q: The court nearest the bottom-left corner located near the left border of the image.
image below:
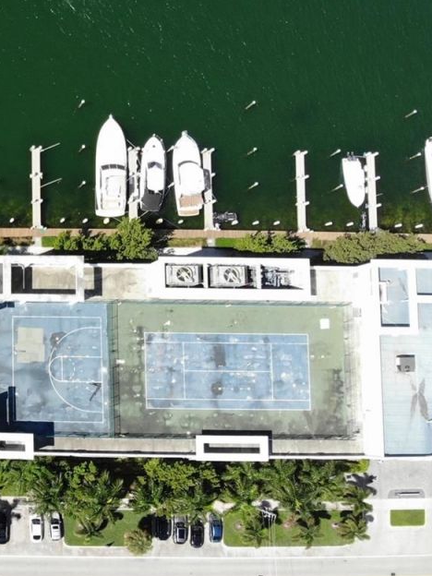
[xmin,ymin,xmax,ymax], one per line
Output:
[0,302,110,435]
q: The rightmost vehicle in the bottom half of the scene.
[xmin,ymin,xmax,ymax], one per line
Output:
[206,510,223,544]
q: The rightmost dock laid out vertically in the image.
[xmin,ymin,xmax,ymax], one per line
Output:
[359,152,382,232]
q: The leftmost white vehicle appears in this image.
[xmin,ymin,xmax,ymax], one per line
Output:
[29,511,43,545]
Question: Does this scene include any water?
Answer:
Yes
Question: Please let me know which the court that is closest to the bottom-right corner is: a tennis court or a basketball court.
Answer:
tennis court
